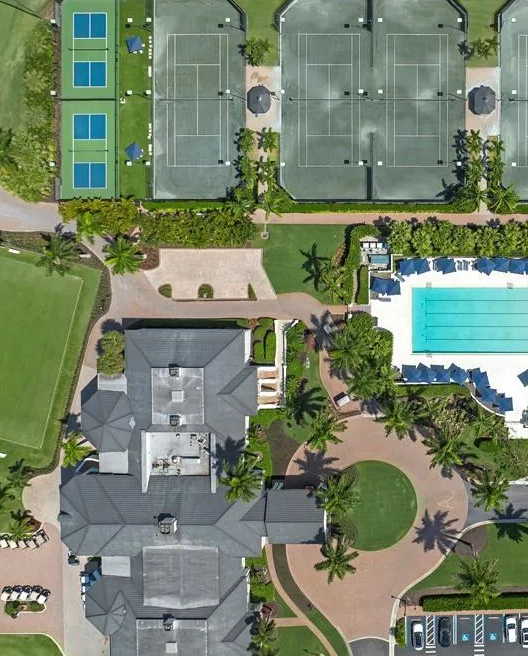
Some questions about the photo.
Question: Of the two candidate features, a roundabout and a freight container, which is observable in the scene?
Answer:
roundabout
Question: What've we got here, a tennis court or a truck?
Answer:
tennis court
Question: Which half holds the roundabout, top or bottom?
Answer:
bottom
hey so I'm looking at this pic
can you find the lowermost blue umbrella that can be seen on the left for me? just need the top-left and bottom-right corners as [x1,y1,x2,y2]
[125,141,146,162]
